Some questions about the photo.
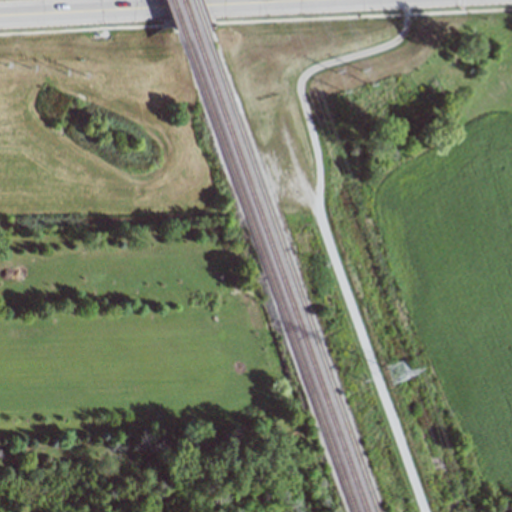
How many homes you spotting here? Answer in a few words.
0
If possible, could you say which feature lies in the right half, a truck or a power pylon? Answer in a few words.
power pylon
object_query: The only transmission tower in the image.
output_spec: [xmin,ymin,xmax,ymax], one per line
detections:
[386,361,433,386]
